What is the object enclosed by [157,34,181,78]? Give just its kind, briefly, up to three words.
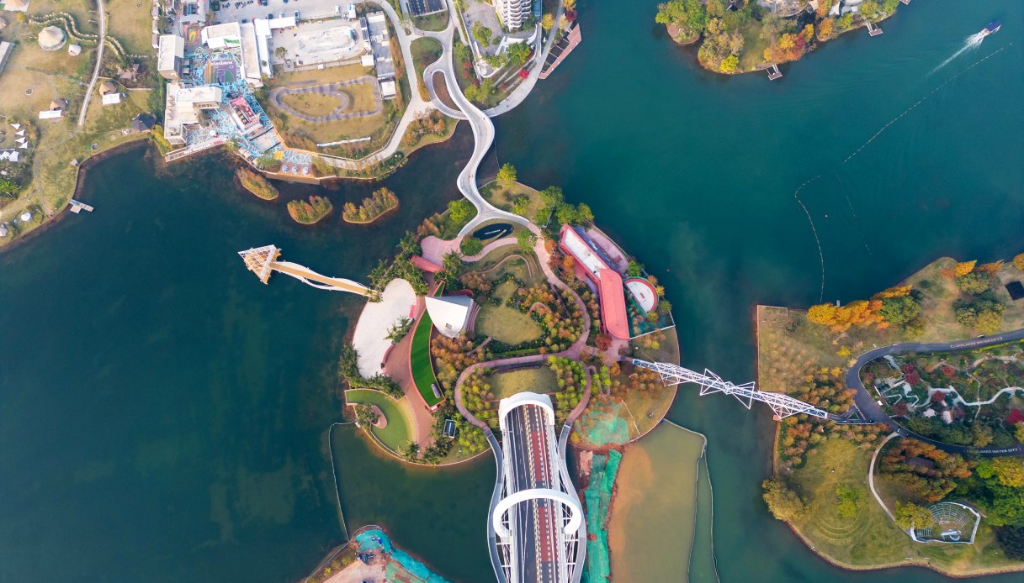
building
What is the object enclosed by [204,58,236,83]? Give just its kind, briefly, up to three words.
basketball court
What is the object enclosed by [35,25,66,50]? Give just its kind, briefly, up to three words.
tent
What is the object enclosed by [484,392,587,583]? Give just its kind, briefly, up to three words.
bridge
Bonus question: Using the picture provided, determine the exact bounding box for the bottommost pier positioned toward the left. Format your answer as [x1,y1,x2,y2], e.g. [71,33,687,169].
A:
[238,245,376,297]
